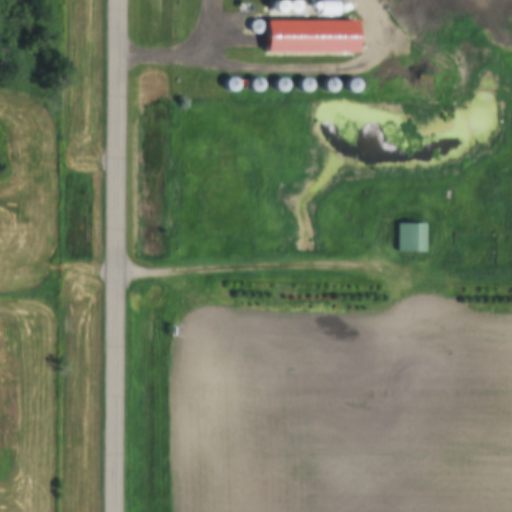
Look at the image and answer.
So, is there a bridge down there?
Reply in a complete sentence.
No, the picture doesn't show any bridge.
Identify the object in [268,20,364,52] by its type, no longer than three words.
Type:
barn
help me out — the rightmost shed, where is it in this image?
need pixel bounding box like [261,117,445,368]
[399,222,429,252]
